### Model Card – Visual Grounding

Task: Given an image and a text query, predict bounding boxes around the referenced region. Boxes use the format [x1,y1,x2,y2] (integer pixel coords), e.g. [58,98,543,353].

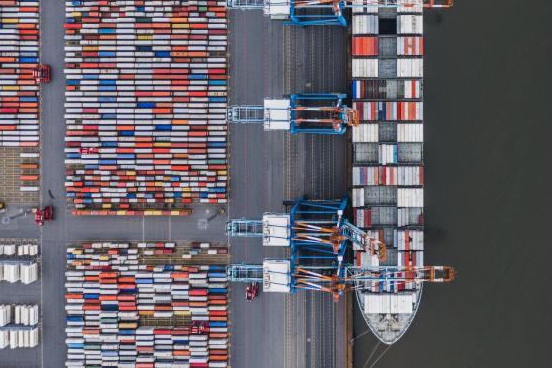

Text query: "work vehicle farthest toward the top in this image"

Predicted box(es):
[33,64,50,83]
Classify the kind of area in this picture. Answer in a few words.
port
